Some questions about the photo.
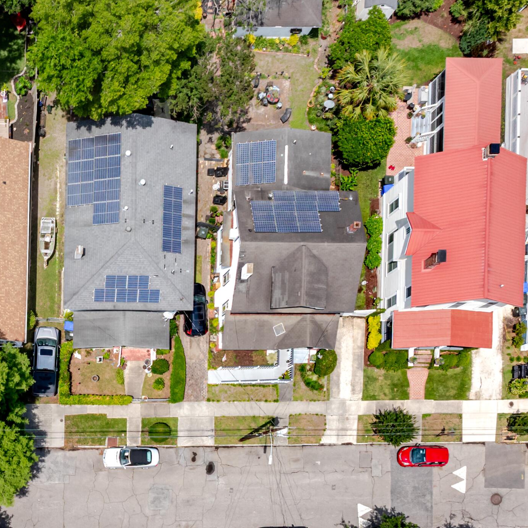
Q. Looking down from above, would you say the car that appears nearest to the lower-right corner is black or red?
red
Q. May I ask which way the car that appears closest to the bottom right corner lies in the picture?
from left to right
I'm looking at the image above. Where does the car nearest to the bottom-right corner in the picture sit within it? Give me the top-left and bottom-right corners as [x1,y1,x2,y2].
[399,442,456,469]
